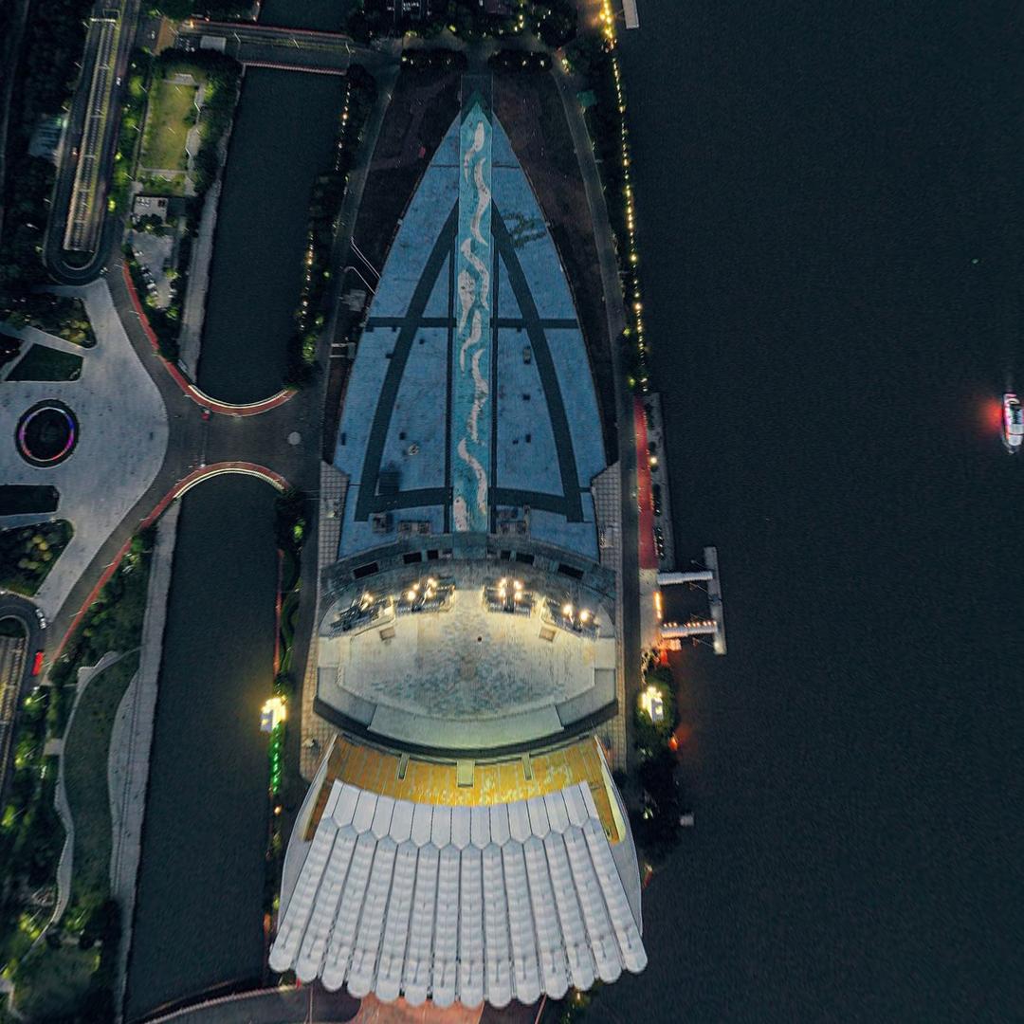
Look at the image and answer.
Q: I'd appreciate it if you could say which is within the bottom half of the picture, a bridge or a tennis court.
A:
bridge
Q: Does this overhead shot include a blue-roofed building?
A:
Yes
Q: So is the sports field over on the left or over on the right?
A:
left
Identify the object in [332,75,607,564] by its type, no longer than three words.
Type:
building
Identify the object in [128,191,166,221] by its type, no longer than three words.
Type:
building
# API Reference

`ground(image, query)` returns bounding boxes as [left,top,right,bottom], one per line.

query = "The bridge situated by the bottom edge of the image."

[129,976,299,1024]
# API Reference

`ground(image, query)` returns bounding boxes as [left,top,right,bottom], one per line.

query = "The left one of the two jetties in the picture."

[619,0,639,29]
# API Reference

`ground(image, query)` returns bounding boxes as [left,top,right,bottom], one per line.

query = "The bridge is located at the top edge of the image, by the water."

[176,17,364,77]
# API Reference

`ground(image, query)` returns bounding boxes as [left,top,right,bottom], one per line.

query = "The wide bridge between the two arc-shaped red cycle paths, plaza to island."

[167,379,302,503]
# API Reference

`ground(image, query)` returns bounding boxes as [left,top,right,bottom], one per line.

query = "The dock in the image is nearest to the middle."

[657,547,726,654]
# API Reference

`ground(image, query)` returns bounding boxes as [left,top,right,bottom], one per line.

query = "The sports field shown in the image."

[136,63,208,194]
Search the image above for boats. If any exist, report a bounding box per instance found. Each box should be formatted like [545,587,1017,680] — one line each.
[680,814,694,825]
[1002,393,1024,455]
